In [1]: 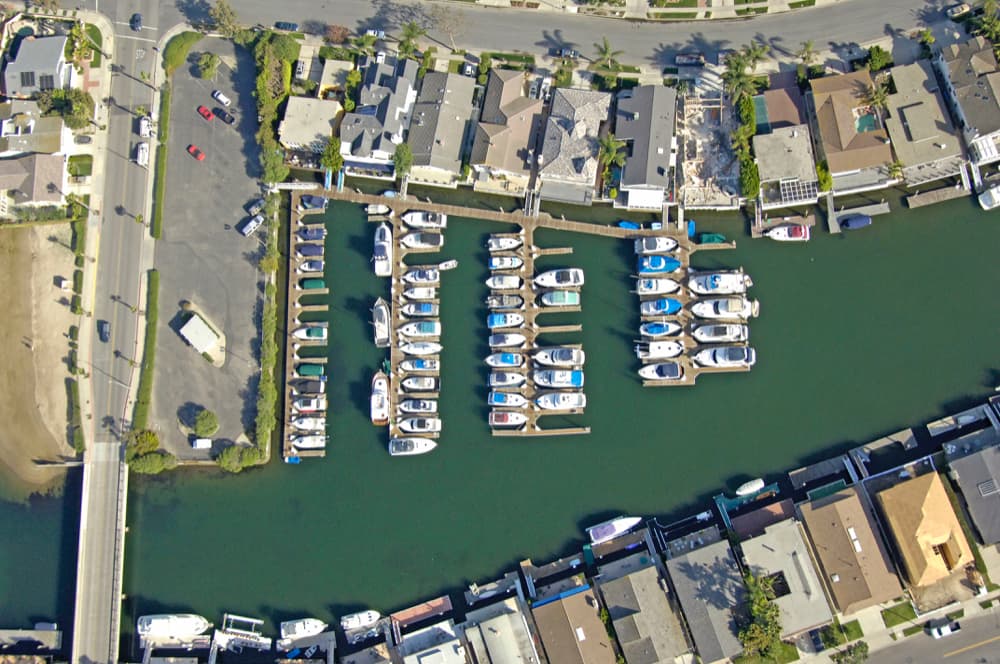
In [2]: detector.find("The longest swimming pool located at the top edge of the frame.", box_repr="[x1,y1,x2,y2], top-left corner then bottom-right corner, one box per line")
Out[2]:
[10,26,34,60]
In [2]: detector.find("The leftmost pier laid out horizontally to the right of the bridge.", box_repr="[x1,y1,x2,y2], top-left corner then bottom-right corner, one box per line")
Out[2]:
[141,635,211,648]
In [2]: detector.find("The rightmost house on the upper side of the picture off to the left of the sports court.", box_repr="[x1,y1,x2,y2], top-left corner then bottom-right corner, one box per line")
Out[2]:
[612,87,677,209]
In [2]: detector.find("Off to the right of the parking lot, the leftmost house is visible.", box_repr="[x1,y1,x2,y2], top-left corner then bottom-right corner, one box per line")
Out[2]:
[279,60,354,156]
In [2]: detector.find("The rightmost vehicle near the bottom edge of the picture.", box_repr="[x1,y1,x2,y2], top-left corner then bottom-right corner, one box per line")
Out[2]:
[930,621,958,636]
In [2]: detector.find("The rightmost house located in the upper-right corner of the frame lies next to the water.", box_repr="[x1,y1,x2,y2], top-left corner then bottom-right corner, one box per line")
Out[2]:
[933,35,1000,165]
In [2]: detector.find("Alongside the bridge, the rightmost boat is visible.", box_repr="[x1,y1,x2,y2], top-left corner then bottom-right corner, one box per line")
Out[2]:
[134,617,209,640]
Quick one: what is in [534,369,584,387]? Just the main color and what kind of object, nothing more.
white boat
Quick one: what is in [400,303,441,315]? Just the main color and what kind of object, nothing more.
white boat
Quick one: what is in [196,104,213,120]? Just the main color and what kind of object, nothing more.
red car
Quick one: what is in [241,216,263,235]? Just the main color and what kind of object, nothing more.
white vehicle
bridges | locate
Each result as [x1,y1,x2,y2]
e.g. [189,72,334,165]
[71,441,131,664]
